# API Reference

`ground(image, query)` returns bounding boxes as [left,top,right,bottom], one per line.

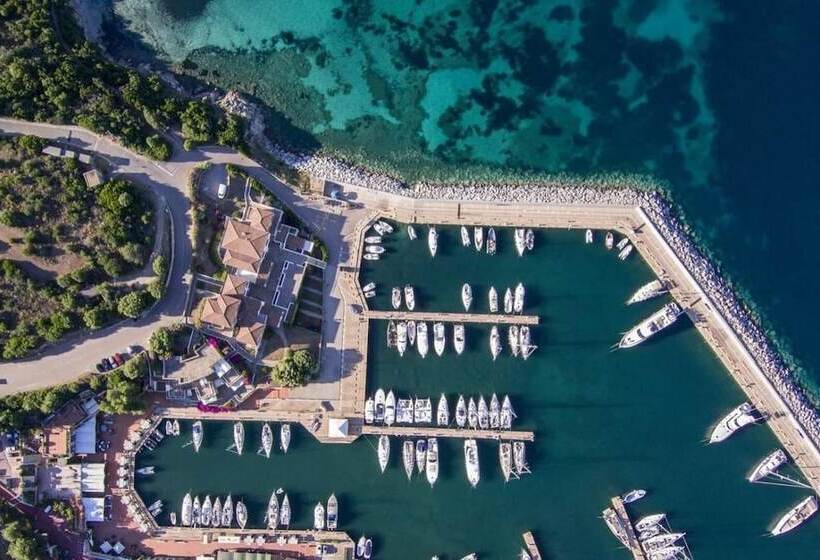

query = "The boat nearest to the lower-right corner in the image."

[774,493,819,537]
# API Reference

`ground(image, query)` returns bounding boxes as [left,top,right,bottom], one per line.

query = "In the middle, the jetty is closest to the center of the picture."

[368,311,539,324]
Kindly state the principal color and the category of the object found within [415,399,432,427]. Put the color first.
white boat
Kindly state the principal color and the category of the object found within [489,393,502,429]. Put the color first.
white boat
